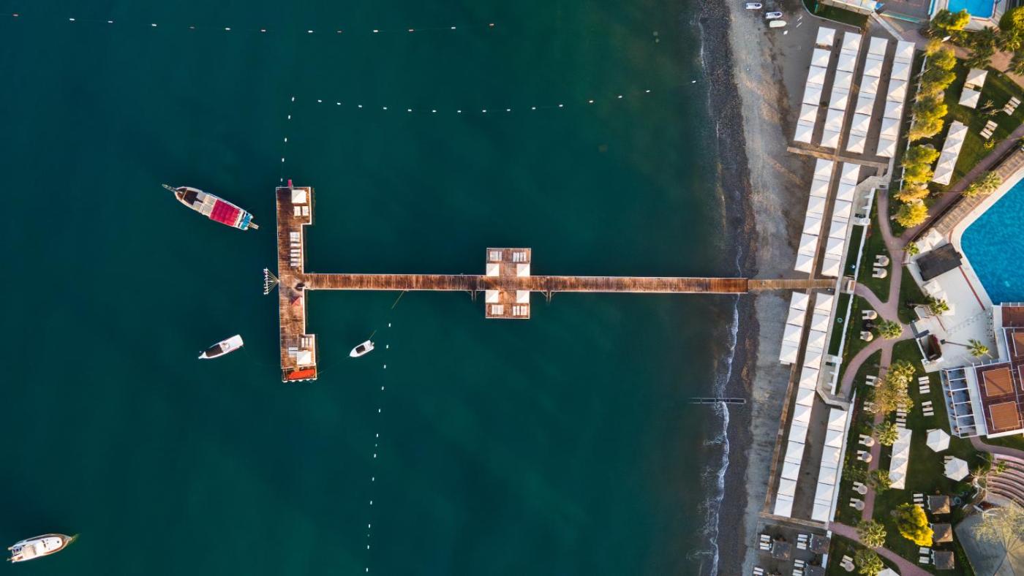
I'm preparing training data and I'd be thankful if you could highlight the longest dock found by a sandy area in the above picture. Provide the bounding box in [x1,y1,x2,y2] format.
[276,187,748,383]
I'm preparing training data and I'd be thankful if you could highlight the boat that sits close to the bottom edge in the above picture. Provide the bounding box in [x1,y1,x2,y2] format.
[8,534,77,562]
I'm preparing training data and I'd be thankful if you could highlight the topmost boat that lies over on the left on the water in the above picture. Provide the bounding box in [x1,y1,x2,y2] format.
[163,185,259,231]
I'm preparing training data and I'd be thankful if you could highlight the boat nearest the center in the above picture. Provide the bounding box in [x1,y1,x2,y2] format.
[349,341,375,357]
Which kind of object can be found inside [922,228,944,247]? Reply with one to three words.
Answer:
umbrella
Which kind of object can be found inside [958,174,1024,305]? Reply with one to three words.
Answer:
swimming pool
